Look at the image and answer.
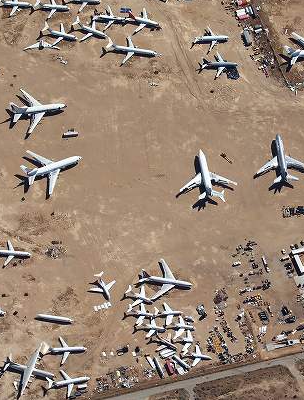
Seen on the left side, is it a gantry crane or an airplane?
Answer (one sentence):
It is an airplane that can be seen on the left side.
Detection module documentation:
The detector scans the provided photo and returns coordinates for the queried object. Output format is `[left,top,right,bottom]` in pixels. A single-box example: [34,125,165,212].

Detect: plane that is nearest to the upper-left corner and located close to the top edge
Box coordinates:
[0,0,31,16]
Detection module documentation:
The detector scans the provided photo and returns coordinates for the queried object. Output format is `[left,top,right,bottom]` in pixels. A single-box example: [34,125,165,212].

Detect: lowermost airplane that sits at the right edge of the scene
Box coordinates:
[255,134,304,183]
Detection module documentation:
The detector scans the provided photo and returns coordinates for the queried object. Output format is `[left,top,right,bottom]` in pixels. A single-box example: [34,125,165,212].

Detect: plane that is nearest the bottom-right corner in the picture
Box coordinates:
[181,346,211,368]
